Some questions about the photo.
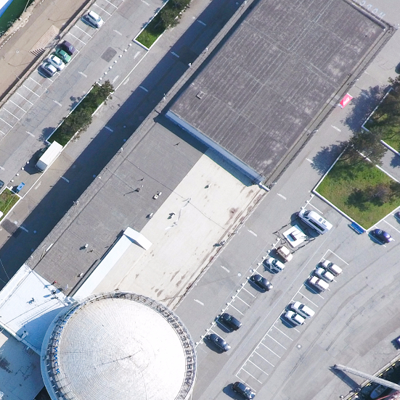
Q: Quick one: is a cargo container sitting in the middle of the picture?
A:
No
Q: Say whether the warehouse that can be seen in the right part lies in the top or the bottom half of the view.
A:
top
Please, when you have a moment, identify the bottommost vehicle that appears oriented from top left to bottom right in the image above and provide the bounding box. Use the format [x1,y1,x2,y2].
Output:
[232,382,255,400]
